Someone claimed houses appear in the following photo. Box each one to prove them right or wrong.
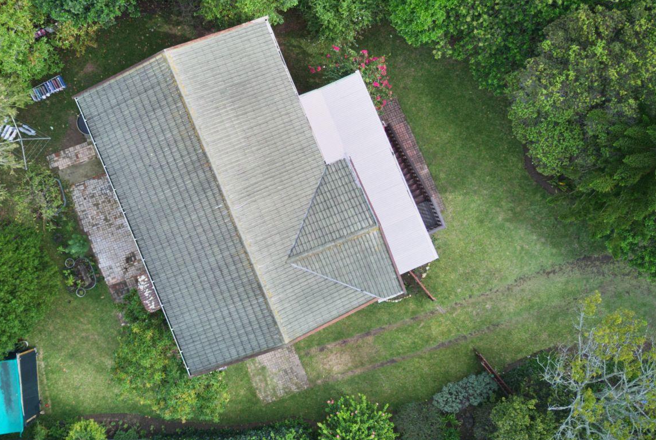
[71,16,440,378]
[0,343,41,437]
